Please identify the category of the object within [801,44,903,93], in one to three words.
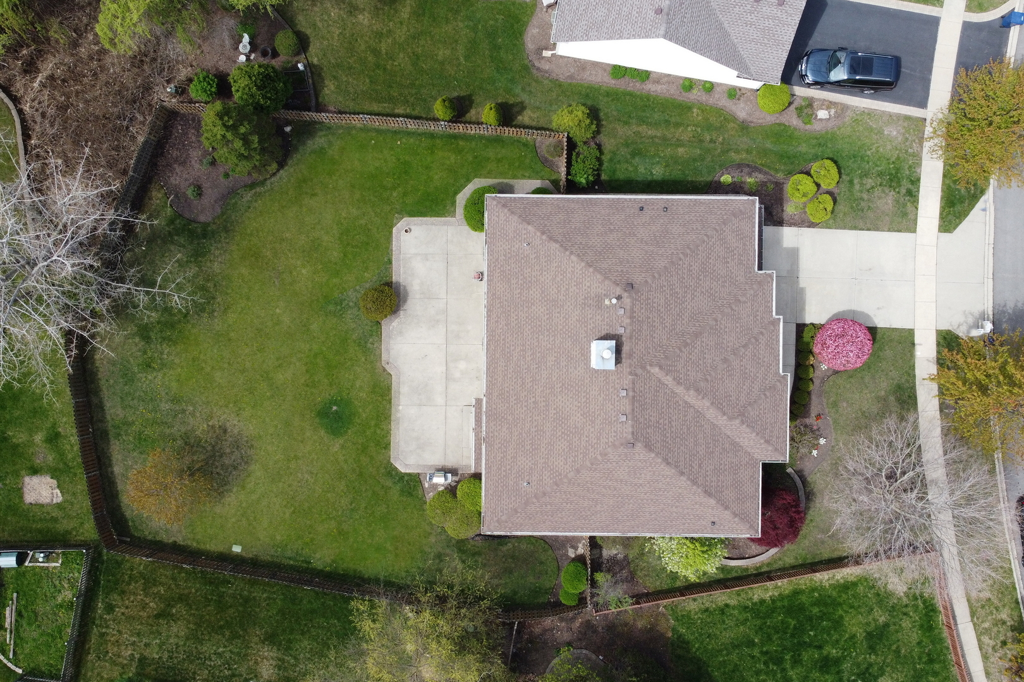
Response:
car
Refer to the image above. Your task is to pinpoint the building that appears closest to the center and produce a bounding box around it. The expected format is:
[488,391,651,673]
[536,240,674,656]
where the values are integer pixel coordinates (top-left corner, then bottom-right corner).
[471,194,790,538]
